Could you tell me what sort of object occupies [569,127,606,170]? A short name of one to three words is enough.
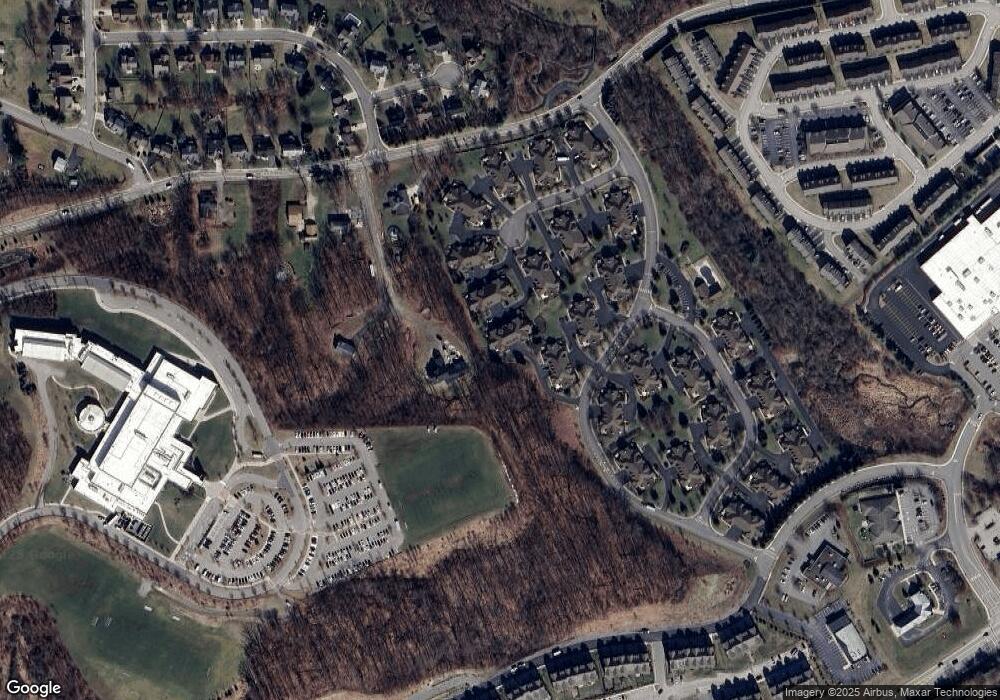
house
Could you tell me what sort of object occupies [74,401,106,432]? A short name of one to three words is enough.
building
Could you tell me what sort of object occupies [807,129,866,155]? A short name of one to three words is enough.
house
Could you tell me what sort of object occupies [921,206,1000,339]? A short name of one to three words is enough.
building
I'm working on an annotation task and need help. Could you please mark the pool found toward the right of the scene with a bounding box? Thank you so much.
[692,256,724,288]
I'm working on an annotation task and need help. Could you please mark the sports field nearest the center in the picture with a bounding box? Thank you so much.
[369,427,506,543]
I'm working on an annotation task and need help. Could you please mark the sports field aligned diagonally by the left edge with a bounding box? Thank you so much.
[2,534,235,700]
